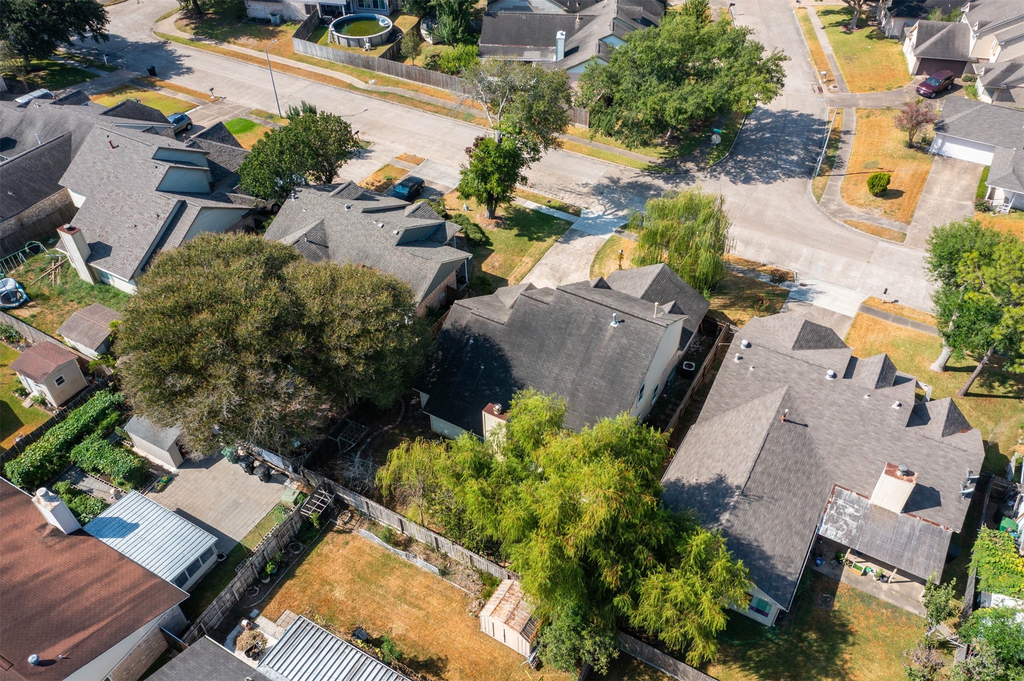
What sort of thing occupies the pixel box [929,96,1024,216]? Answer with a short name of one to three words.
house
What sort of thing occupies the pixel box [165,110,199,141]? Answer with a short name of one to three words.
car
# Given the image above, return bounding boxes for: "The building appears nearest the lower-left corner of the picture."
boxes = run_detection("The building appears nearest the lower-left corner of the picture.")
[0,473,230,681]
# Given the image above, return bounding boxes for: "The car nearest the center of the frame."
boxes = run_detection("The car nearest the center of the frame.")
[384,173,432,201]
